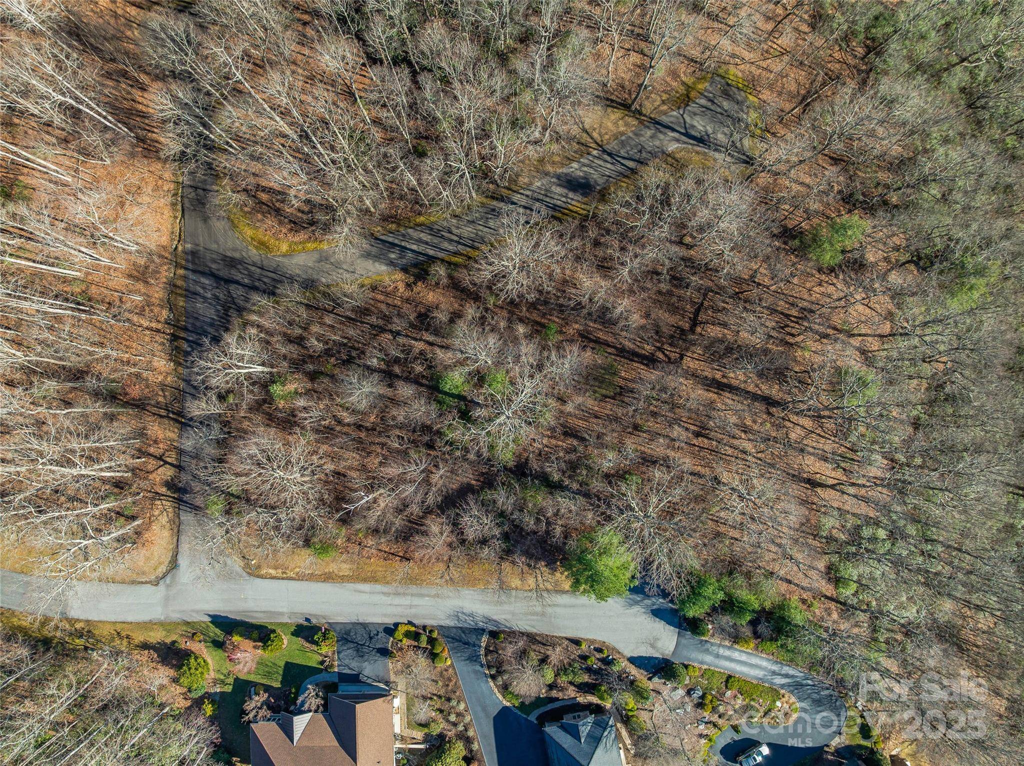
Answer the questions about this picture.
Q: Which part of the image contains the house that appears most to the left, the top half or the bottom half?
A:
bottom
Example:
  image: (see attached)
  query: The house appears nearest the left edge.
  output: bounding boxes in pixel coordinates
[249,687,394,766]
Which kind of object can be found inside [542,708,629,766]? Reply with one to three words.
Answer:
house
